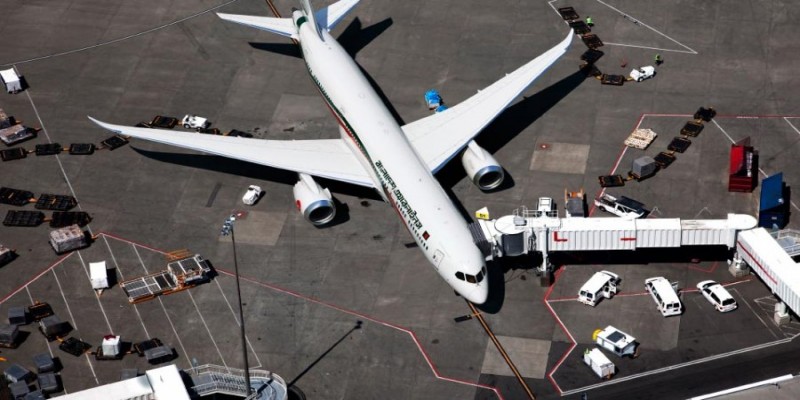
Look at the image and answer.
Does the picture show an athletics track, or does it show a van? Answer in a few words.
van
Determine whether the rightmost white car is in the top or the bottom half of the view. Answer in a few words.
bottom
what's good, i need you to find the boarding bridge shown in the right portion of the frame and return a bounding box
[471,203,764,286]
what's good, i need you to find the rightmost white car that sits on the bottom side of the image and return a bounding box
[695,281,738,315]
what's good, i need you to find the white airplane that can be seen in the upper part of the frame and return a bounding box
[88,0,573,303]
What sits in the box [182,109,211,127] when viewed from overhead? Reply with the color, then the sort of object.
white work vehicle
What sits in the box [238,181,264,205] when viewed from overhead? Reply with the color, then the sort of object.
white car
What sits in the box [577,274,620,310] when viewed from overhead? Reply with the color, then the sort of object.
white van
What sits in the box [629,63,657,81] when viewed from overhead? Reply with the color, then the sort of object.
white work vehicle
